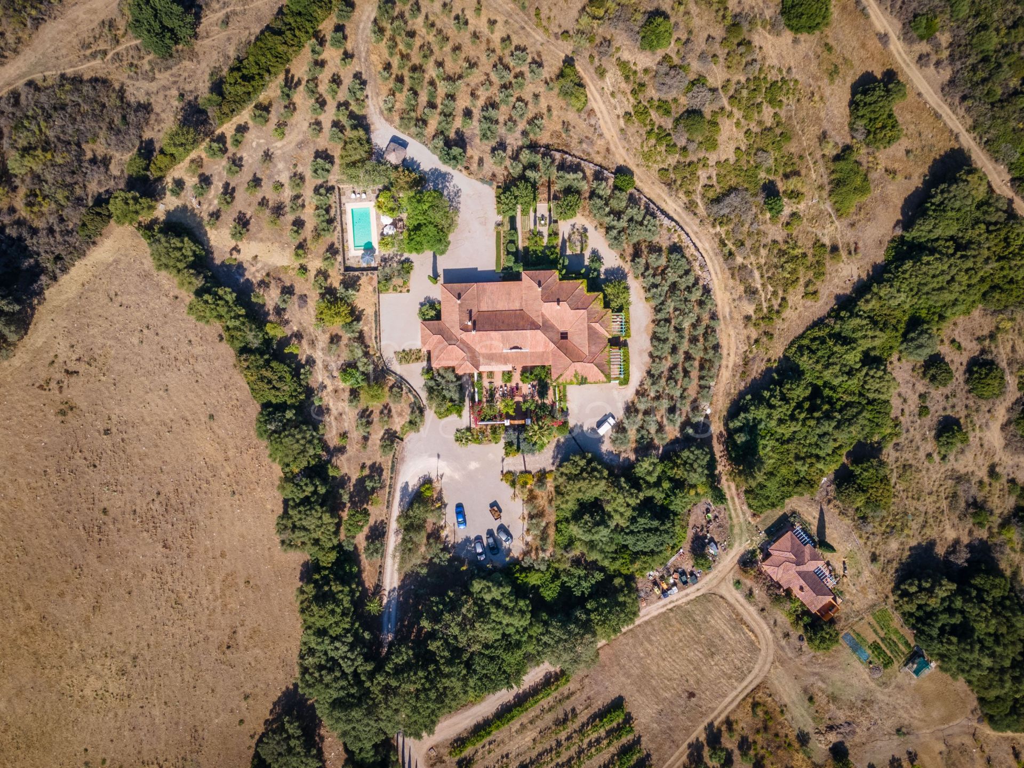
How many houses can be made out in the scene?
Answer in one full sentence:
The count of houses comes to 2.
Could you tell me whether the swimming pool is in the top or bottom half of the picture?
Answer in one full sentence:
The swimming pool is in the top half of the image.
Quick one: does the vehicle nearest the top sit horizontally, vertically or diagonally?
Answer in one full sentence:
I'd say the vehicle nearest the top is aligned diagonally in the picture.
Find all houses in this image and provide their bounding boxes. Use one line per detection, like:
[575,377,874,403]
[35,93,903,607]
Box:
[420,270,612,383]
[762,530,842,622]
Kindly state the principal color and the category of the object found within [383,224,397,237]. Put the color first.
white umbrella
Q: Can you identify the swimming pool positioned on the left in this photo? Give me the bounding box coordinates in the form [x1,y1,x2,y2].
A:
[346,202,378,256]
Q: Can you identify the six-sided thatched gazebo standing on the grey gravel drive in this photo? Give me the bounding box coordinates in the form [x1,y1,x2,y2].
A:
[385,143,408,167]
